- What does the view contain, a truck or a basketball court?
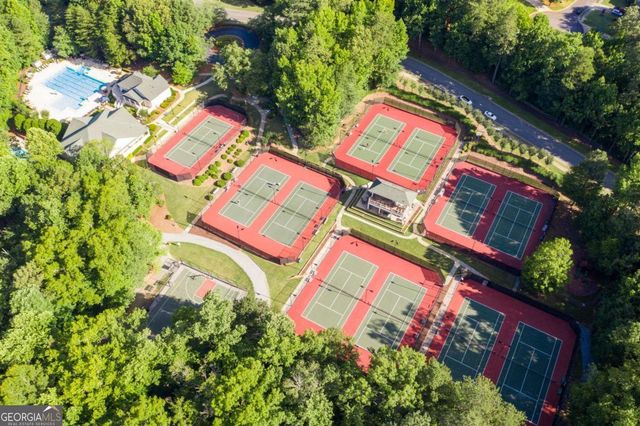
basketball court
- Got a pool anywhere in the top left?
Yes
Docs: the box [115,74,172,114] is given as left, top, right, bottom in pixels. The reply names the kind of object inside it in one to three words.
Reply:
building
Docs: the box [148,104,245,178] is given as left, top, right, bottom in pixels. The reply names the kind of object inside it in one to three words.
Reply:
tennis court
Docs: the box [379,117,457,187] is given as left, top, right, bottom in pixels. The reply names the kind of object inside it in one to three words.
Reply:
tennis court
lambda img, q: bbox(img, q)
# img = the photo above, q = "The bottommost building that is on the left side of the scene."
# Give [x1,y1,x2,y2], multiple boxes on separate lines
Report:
[46,103,152,158]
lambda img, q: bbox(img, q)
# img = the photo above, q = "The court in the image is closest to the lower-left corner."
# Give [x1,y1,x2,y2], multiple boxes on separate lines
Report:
[136,265,242,359]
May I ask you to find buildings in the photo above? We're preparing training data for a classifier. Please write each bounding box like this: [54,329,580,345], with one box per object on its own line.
[115,74,172,114]
[46,103,152,158]
[364,172,424,225]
